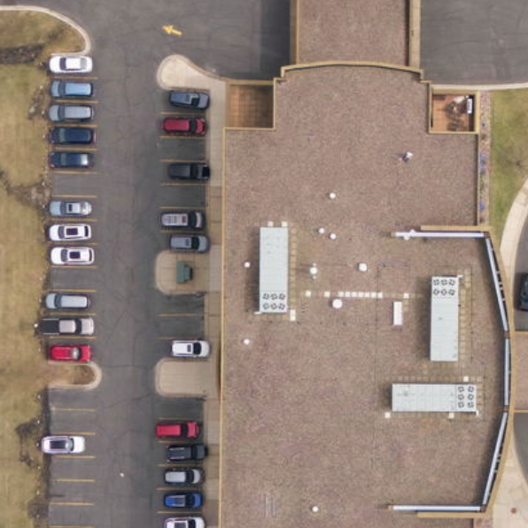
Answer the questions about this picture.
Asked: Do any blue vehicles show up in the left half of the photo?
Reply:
Yes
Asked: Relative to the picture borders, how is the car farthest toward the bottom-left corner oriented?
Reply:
from side to side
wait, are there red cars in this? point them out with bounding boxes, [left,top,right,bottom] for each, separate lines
[50,343,94,364]
[162,114,206,135]
[156,421,201,441]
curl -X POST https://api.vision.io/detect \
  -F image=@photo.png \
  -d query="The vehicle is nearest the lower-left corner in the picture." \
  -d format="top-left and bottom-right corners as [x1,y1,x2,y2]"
[42,434,86,454]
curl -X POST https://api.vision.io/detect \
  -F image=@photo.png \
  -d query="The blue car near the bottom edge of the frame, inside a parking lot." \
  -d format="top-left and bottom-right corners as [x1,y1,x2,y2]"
[164,490,204,511]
